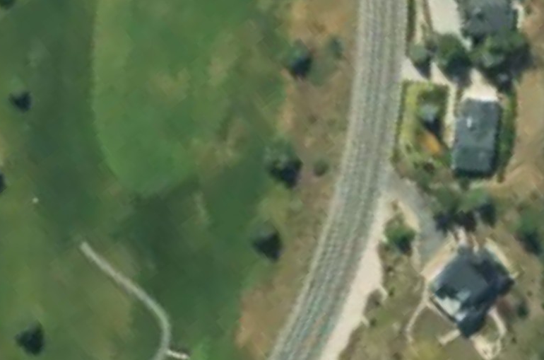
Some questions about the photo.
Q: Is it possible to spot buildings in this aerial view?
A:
Yes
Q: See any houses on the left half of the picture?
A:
No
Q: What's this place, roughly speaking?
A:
golf course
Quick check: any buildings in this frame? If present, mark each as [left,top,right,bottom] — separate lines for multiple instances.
[455,97,505,178]
[460,0,526,40]
[431,240,522,339]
